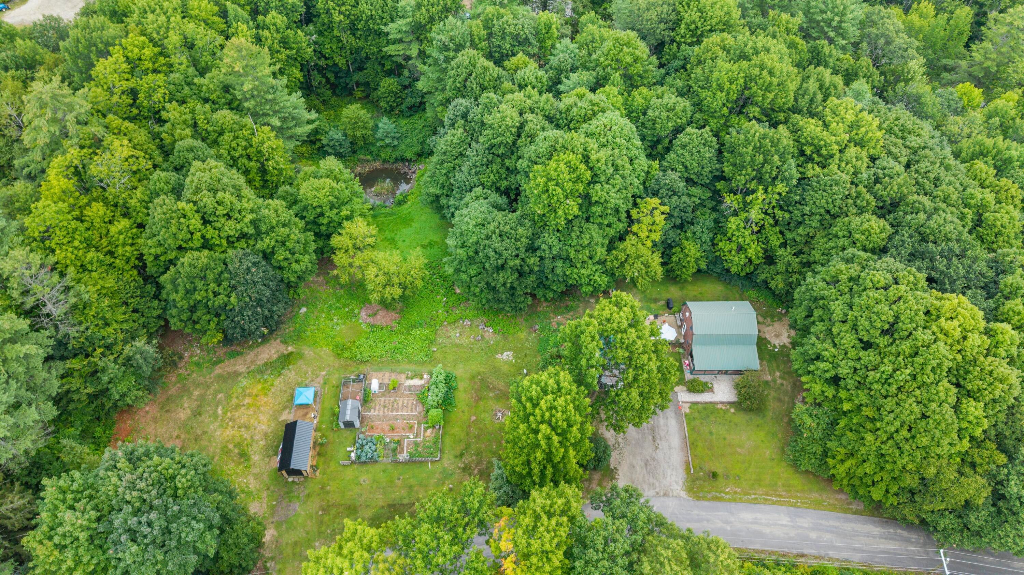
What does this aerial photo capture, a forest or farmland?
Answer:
forest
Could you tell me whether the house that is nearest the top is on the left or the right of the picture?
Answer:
right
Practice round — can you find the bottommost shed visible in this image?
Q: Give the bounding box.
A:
[277,419,316,480]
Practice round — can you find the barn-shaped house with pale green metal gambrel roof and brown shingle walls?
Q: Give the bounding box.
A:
[680,301,759,375]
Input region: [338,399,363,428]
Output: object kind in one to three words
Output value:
shed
